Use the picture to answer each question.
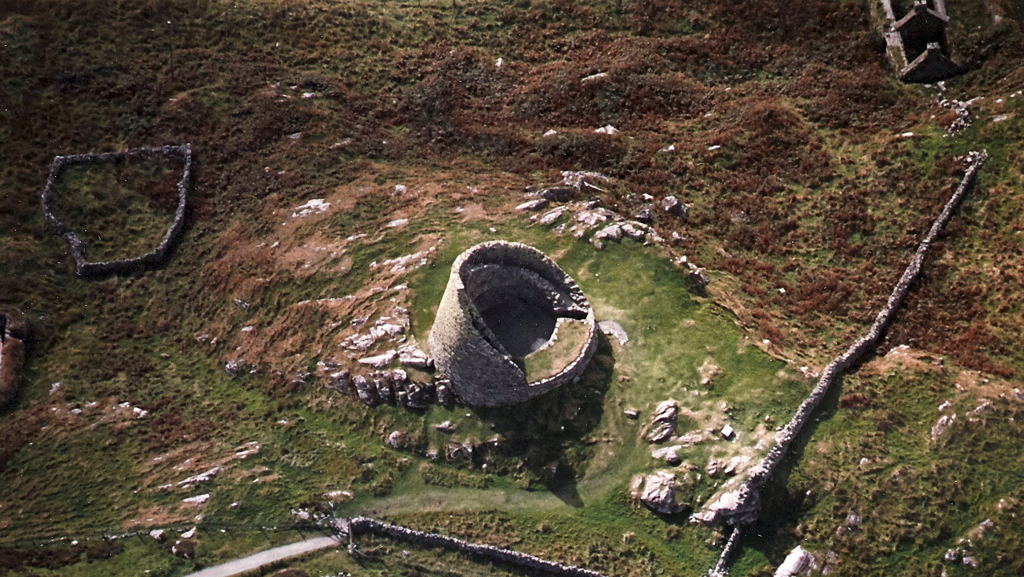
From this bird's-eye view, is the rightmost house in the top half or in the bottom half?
top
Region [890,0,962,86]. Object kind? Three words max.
house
